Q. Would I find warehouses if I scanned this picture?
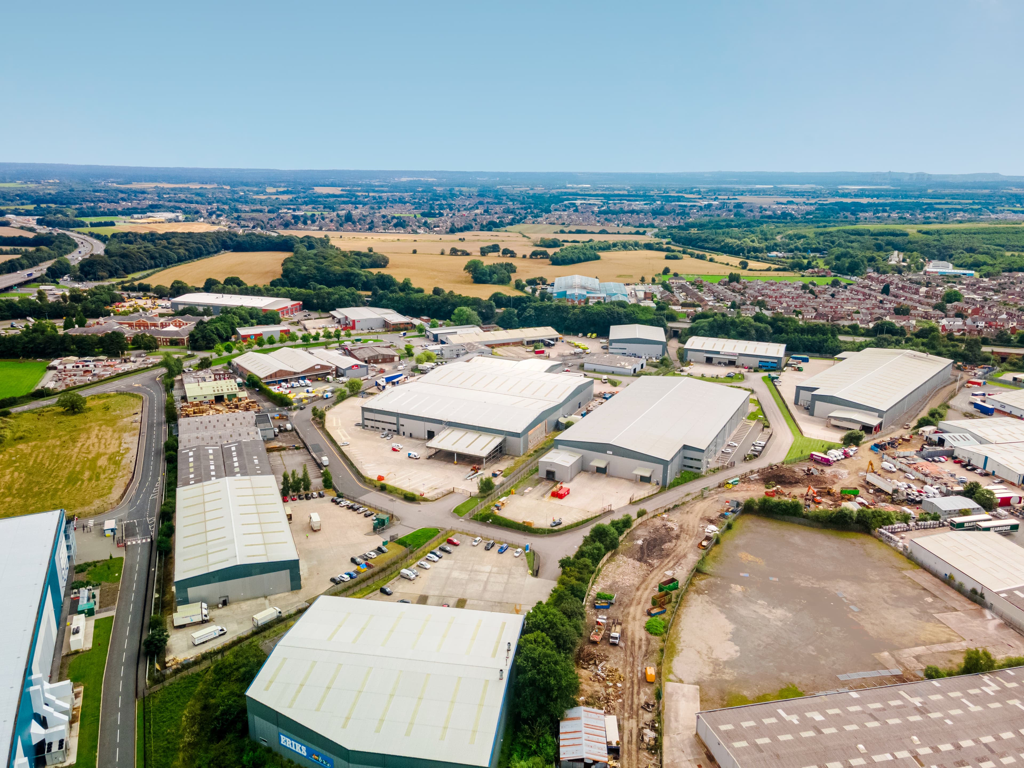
Yes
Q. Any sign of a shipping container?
Yes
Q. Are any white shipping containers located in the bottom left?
Yes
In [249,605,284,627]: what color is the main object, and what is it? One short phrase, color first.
white truck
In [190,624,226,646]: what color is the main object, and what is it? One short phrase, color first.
white vehicle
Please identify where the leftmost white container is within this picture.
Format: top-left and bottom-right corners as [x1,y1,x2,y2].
[64,610,89,650]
